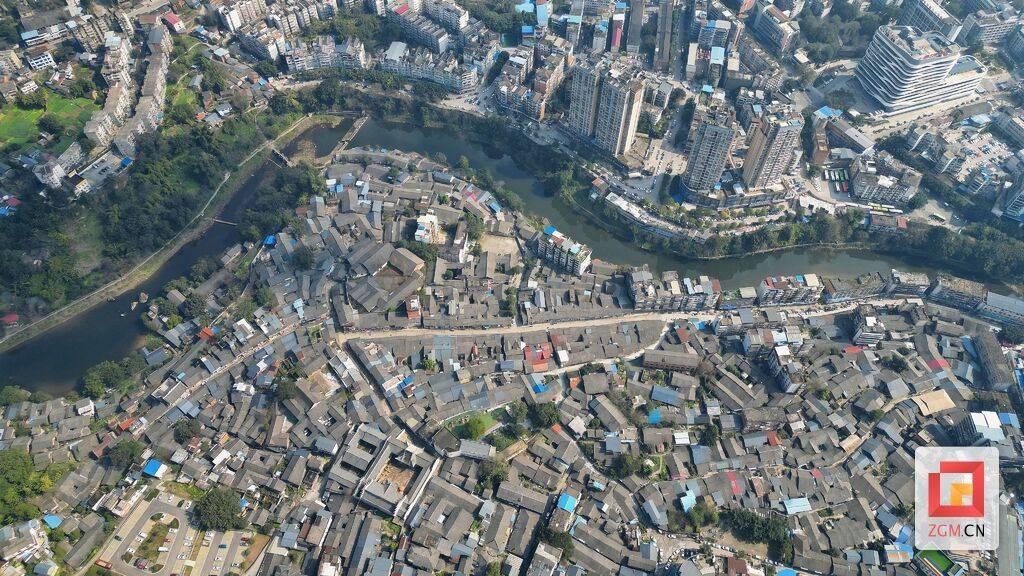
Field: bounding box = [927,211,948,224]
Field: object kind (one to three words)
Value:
vehicle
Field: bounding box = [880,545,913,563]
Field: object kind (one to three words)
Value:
house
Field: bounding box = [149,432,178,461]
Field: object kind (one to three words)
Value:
house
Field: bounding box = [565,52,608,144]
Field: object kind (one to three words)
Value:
building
